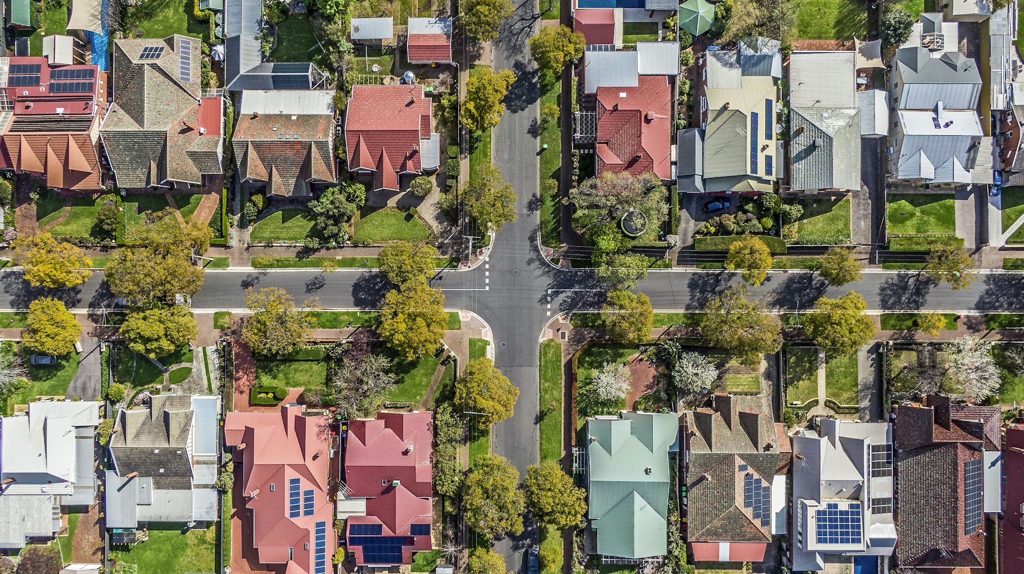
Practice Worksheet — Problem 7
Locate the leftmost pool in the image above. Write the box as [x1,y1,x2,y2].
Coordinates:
[82,0,110,72]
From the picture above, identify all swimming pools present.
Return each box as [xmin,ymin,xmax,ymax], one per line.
[854,556,879,574]
[82,0,110,72]
[577,0,644,8]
